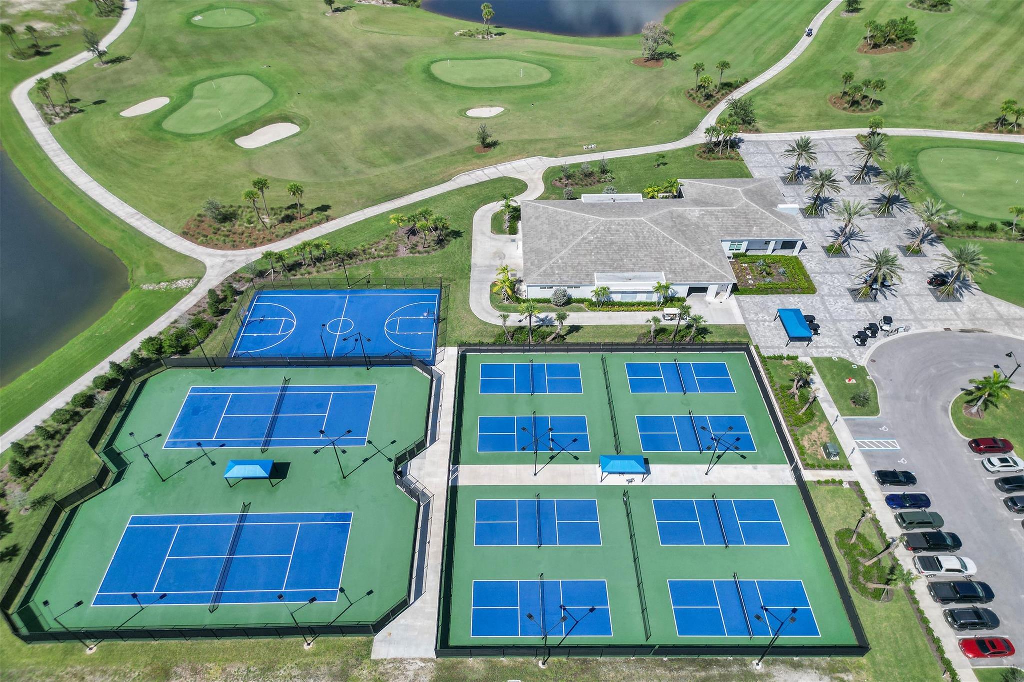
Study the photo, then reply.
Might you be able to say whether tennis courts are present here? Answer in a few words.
Yes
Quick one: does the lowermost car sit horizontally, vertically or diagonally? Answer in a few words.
horizontally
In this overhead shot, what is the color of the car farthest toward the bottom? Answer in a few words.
red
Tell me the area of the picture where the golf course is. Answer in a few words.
top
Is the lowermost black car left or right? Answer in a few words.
right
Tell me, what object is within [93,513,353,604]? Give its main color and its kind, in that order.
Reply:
blue tennis court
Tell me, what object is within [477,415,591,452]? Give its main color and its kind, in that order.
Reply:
blue sports court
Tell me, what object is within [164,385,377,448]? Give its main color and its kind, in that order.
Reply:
blue tennis court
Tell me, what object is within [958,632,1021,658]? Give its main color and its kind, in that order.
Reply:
red car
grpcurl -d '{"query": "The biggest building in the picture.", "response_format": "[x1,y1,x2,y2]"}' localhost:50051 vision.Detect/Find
[521,177,808,301]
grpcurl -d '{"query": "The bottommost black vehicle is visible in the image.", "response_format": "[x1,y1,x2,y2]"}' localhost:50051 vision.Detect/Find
[943,604,1005,630]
